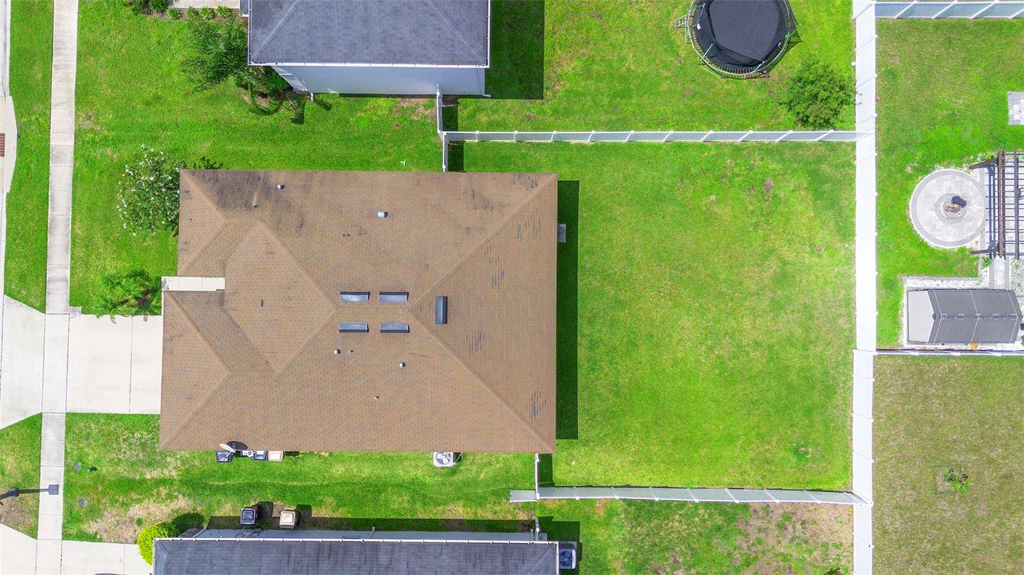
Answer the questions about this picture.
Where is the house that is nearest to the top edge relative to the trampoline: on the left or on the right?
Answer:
to its left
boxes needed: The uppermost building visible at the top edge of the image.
[238,0,492,102]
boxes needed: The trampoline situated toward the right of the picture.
[669,0,802,78]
